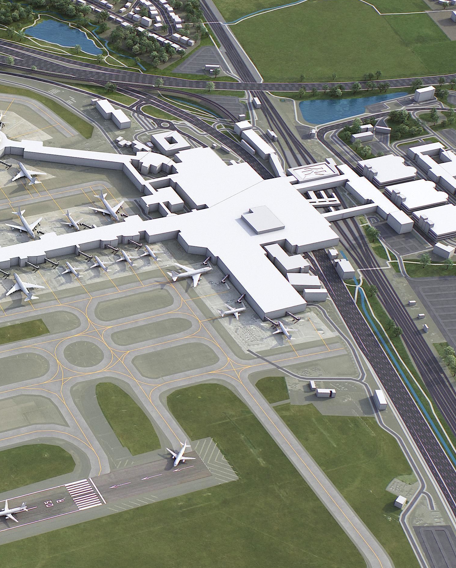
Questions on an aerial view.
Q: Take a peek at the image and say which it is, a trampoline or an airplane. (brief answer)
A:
airplane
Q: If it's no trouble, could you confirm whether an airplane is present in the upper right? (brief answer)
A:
No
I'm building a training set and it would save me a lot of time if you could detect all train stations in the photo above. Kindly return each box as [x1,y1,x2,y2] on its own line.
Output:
[287,162,338,183]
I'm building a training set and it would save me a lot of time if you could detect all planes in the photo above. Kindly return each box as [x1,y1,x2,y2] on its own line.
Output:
[5,272,48,302]
[90,256,114,272]
[117,250,140,266]
[5,208,43,238]
[11,162,50,184]
[168,443,197,466]
[169,261,212,285]
[63,211,84,230]
[218,303,246,319]
[89,192,125,221]
[0,497,28,521]
[141,245,164,261]
[63,262,88,278]
[273,321,299,339]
